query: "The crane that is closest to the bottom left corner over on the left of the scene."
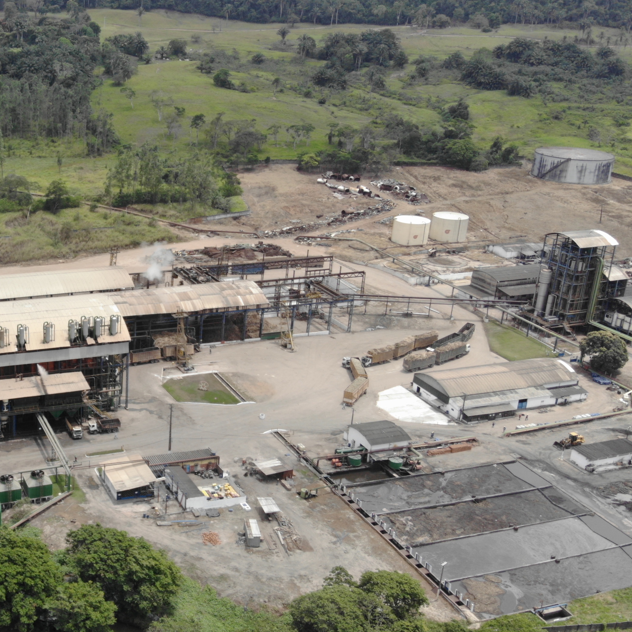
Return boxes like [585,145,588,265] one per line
[174,321,198,372]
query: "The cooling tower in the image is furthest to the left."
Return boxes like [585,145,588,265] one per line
[0,471,23,510]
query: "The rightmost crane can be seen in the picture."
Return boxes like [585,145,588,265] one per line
[301,272,354,302]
